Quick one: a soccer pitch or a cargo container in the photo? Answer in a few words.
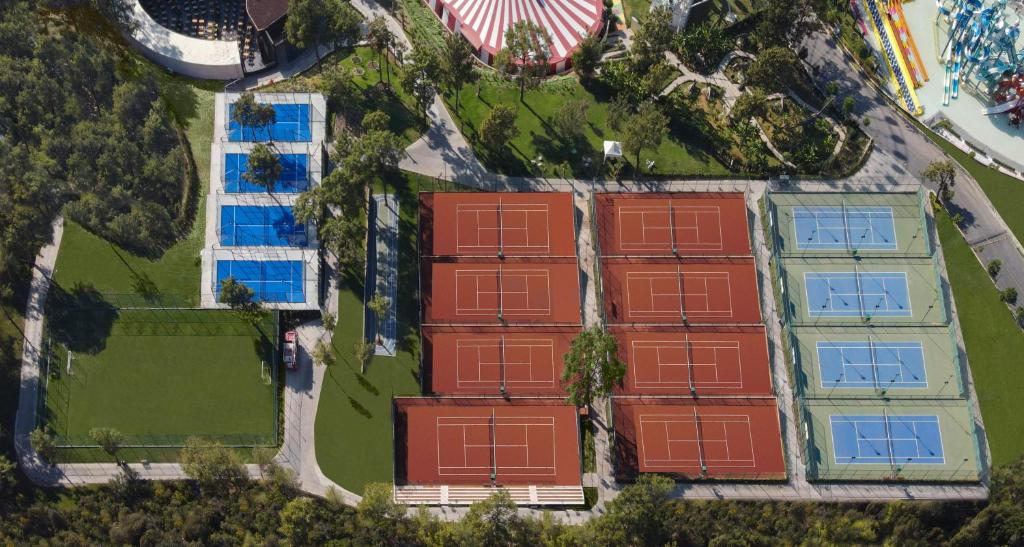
soccer pitch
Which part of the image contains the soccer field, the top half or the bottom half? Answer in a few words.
bottom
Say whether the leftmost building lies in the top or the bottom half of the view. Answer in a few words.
top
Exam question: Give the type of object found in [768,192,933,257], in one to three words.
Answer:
tennis court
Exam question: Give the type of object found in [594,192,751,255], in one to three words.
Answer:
tennis court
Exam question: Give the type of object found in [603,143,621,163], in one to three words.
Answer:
gazebo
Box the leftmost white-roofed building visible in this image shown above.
[124,0,244,77]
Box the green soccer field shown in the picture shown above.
[48,310,276,446]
